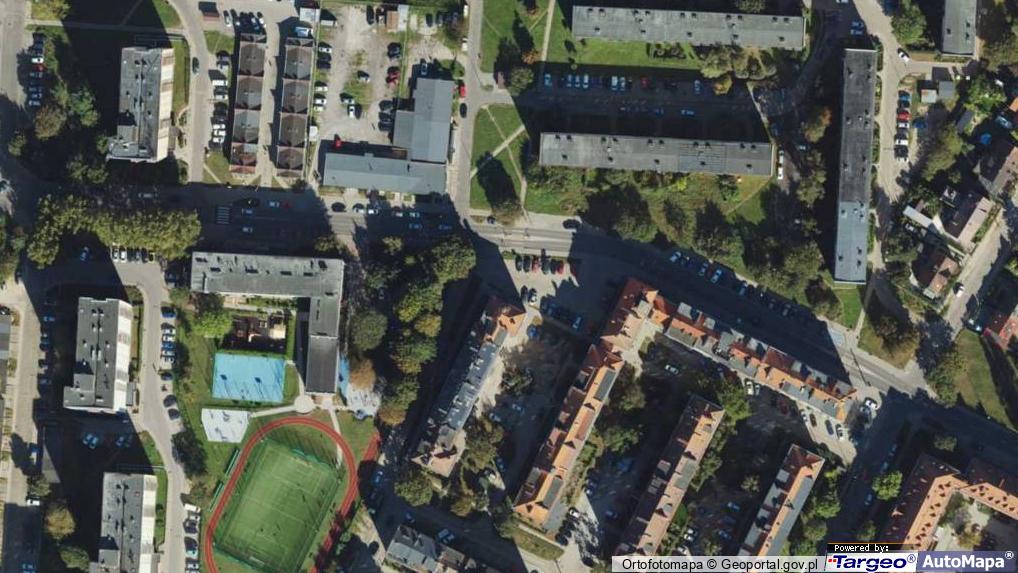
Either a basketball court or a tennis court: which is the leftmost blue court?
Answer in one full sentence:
I'd identify the leftmost blue court as a basketball court.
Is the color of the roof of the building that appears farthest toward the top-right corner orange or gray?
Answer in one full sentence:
The roof of the building that appears farthest toward the top-right corner looks gray in the image.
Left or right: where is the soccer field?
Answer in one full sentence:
It is on the left.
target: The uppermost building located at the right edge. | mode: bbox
[942,0,977,58]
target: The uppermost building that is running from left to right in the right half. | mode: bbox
[573,6,805,54]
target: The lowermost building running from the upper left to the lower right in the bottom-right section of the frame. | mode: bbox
[944,455,1018,520]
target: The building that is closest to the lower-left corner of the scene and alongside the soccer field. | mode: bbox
[88,473,161,573]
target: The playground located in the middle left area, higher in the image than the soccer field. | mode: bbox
[226,314,285,351]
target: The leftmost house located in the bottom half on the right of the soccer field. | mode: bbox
[387,527,449,573]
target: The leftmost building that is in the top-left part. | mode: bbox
[107,48,180,167]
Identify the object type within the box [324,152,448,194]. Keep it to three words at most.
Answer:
building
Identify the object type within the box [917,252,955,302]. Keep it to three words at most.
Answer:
house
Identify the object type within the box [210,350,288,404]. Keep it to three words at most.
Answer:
basketball court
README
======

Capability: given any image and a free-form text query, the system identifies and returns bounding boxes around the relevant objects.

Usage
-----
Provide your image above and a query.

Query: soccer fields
[206,433,345,573]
